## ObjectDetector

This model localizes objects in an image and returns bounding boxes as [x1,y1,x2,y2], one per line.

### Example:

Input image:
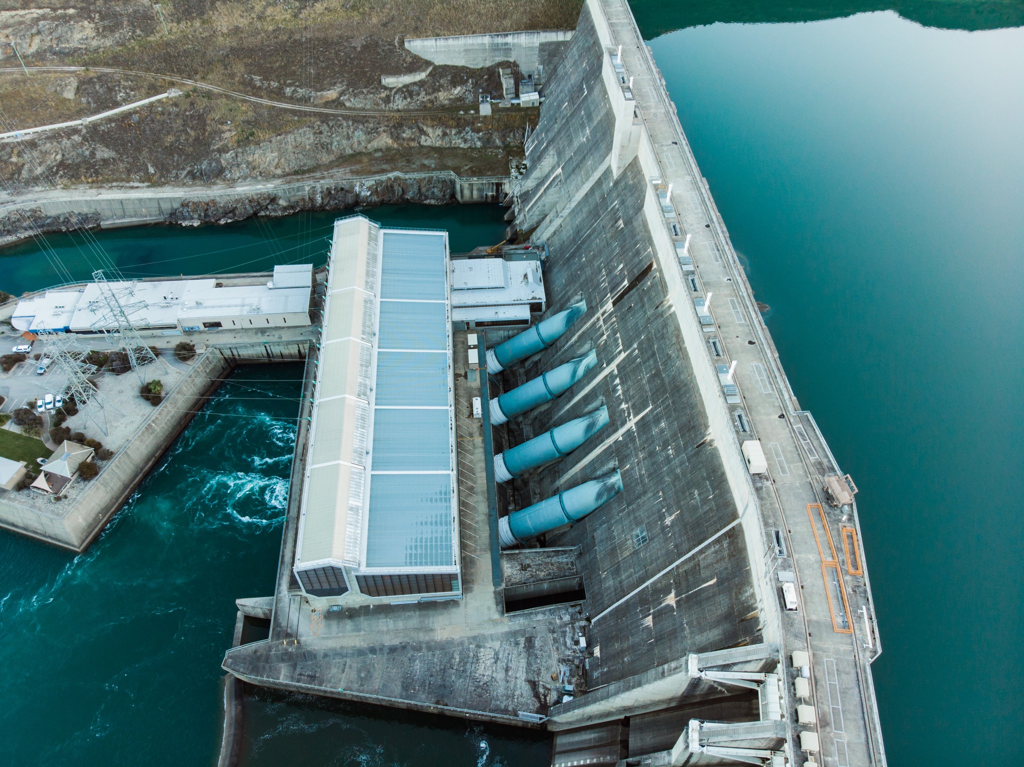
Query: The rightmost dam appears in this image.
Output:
[504,0,888,767]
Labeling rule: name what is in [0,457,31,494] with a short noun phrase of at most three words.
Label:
building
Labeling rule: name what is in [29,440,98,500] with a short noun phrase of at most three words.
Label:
building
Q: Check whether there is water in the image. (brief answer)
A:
Yes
